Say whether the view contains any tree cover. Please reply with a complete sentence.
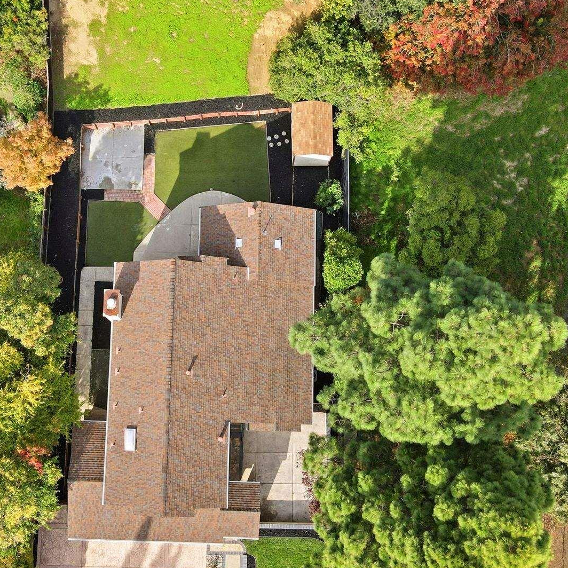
Yes, tree cover can be seen from above here.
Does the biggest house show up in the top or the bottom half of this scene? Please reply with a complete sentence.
The biggest house is in the bottom half of the image.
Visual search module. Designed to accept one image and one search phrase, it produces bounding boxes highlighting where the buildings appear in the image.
[288,100,333,168]
[67,202,318,545]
